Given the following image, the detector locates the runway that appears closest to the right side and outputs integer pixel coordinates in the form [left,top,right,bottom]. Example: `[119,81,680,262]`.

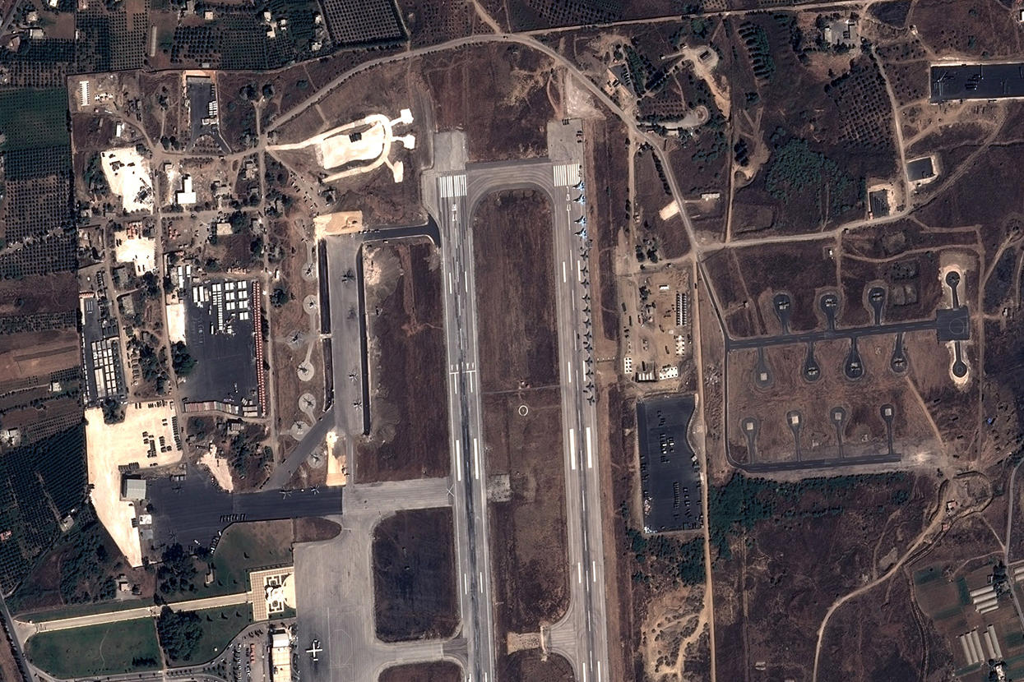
[553,163,609,682]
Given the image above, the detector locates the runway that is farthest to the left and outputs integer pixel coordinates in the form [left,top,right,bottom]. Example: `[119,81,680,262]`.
[438,167,495,682]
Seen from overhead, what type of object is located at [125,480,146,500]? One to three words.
hangar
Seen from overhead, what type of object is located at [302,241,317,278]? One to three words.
helipad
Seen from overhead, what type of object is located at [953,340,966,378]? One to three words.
helipad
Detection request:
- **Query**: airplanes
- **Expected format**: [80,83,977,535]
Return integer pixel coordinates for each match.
[583,357,596,366]
[581,332,595,341]
[574,184,586,193]
[580,306,593,315]
[583,369,597,379]
[305,643,324,658]
[583,382,597,391]
[579,294,593,303]
[578,218,588,227]
[584,396,598,405]
[576,229,588,238]
[582,344,595,353]
[578,251,591,261]
[575,196,587,204]
[581,279,592,288]
[581,319,594,328]
[579,266,592,276]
